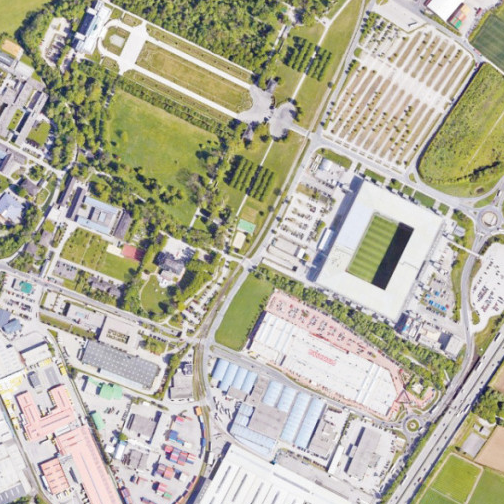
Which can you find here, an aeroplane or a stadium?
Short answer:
stadium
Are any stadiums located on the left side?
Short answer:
No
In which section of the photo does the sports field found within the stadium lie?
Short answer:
right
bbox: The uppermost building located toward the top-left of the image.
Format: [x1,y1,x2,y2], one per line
[71,0,111,54]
